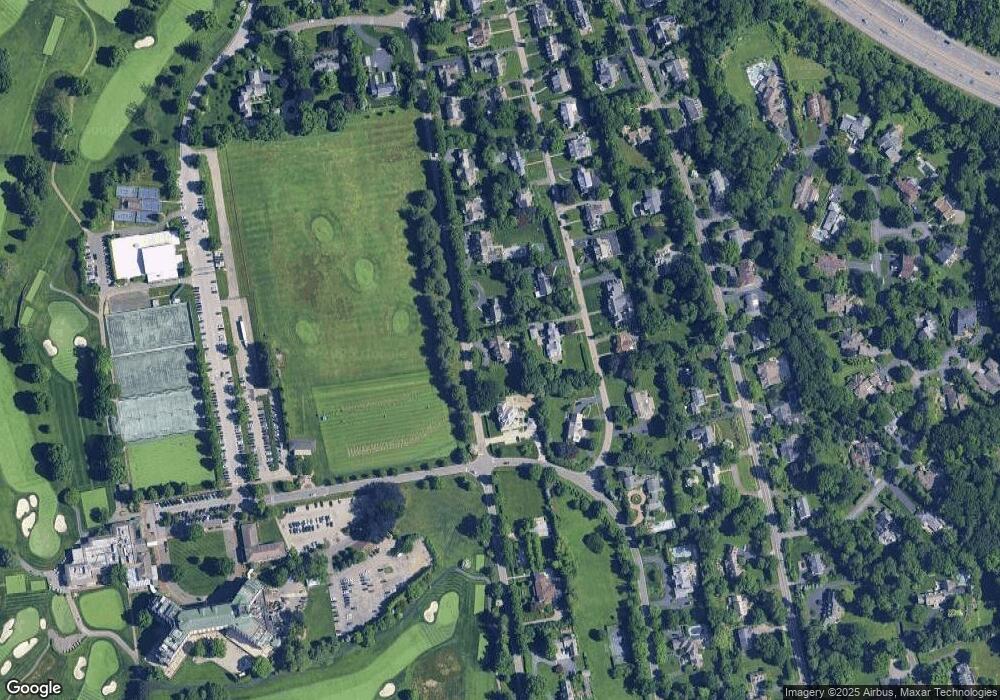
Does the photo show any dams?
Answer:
No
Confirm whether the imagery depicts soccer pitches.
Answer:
No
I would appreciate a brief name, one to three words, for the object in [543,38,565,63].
house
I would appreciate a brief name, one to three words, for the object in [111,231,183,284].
building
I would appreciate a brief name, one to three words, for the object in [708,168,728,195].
house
